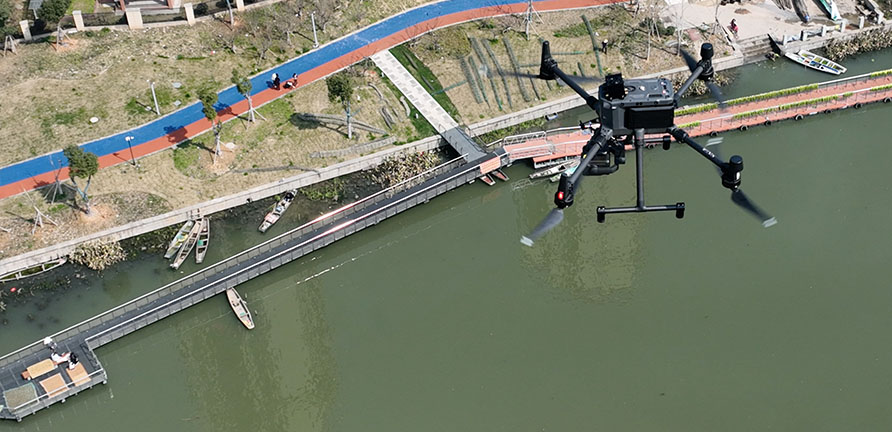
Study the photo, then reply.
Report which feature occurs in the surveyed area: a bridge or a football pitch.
bridge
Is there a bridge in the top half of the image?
Yes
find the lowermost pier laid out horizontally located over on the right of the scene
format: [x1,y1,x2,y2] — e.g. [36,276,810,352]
[532,69,892,163]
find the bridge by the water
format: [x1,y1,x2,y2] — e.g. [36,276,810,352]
[503,128,552,164]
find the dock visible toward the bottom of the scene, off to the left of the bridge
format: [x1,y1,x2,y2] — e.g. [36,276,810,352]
[0,138,511,424]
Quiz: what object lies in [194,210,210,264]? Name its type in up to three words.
boat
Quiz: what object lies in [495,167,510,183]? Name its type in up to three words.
boat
